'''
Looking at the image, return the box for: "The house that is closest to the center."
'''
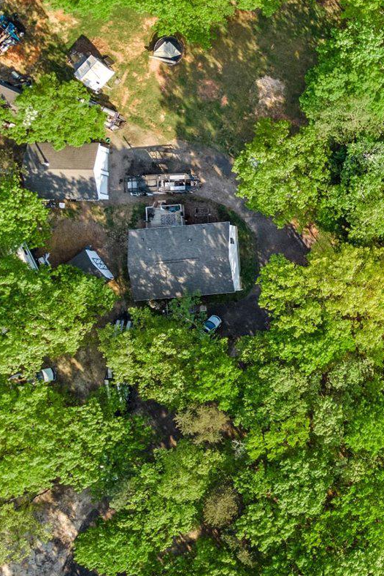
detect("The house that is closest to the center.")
[126,201,243,301]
